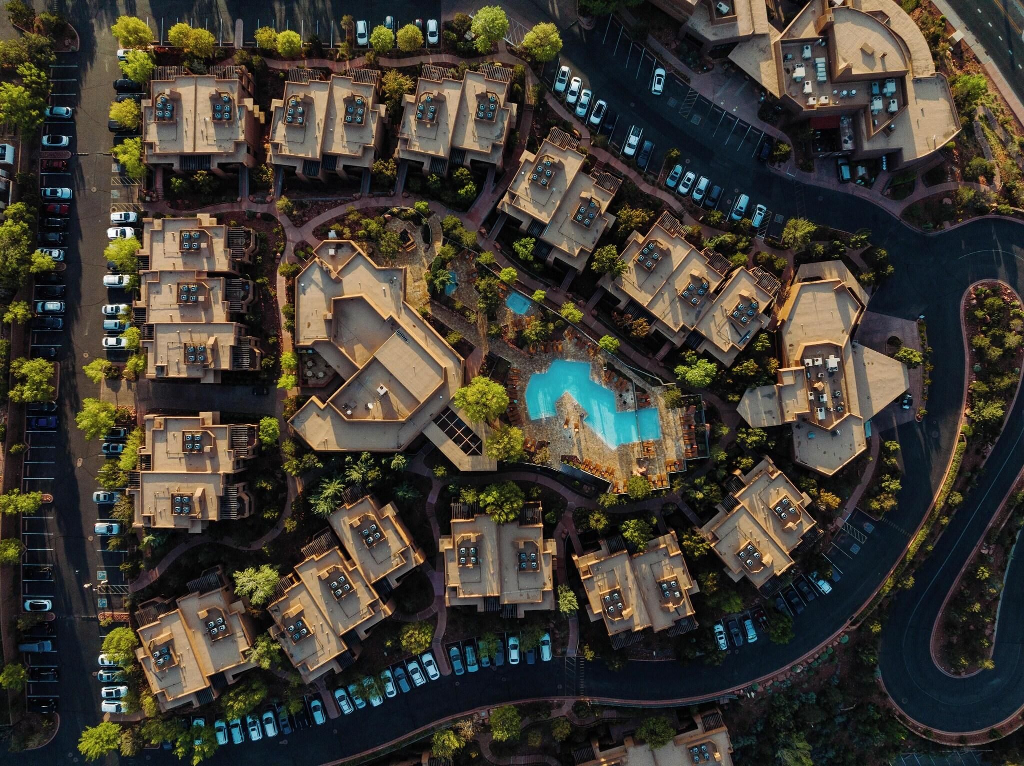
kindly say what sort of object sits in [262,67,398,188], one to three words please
house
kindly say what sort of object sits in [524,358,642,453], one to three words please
swimming pool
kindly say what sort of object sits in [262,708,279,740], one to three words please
car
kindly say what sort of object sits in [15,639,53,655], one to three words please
vehicle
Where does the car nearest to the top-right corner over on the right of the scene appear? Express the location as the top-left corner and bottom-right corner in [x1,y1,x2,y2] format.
[837,158,853,184]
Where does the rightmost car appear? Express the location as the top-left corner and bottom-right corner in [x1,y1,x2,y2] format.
[897,389,915,415]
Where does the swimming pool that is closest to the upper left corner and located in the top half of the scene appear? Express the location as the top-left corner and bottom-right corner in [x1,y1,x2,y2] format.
[443,269,458,298]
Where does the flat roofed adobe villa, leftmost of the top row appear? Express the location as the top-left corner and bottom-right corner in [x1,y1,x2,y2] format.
[135,65,268,185]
